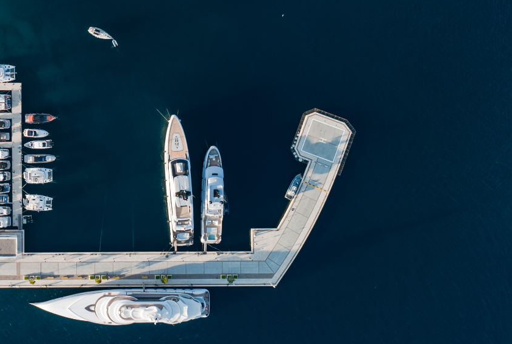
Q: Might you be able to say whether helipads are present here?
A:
Yes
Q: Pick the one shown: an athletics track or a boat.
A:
boat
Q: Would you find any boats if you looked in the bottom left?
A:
Yes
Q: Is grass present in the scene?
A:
No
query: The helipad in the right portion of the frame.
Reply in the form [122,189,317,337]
[290,107,357,176]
